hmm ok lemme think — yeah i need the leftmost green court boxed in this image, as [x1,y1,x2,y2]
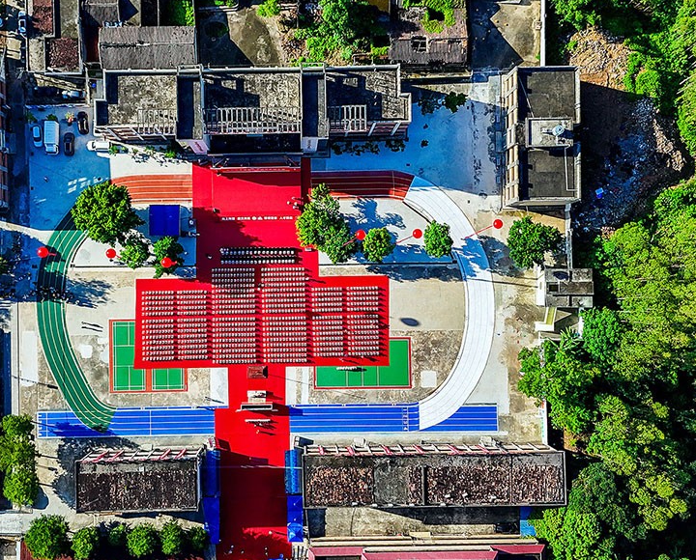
[109,319,149,392]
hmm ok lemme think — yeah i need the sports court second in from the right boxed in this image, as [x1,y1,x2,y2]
[149,368,188,392]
